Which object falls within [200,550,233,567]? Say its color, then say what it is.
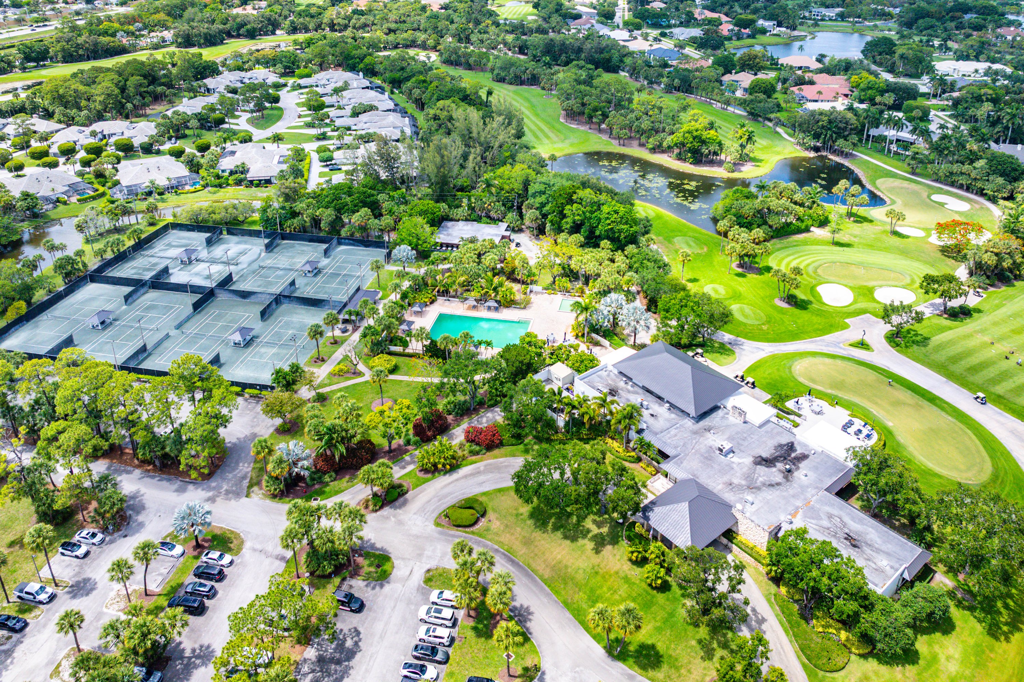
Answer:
white car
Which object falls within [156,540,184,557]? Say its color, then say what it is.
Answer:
white car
